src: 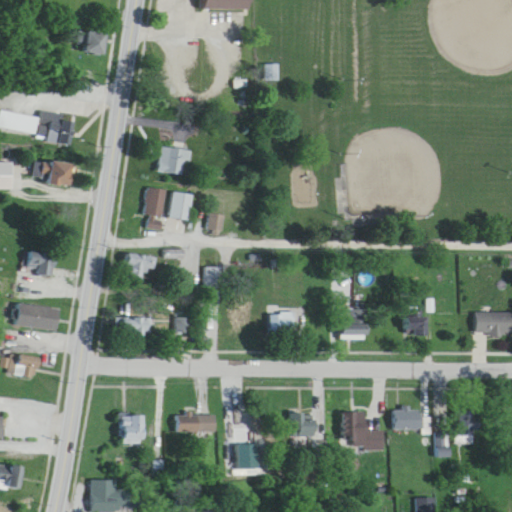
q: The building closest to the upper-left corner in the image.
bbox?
[76,30,108,56]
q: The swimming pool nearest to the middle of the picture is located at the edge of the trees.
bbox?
[356,271,375,288]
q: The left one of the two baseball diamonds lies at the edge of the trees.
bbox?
[336,128,442,221]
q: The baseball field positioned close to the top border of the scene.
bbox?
[429,0,512,76]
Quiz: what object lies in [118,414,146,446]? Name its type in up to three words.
house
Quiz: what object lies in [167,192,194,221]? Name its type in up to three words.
barn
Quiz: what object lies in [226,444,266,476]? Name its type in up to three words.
house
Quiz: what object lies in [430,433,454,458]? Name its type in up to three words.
building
